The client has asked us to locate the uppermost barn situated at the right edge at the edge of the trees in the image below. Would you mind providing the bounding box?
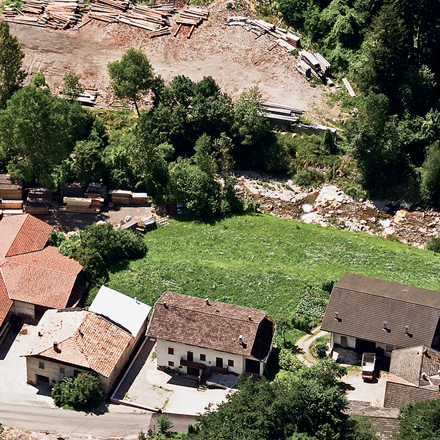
[321,273,439,357]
